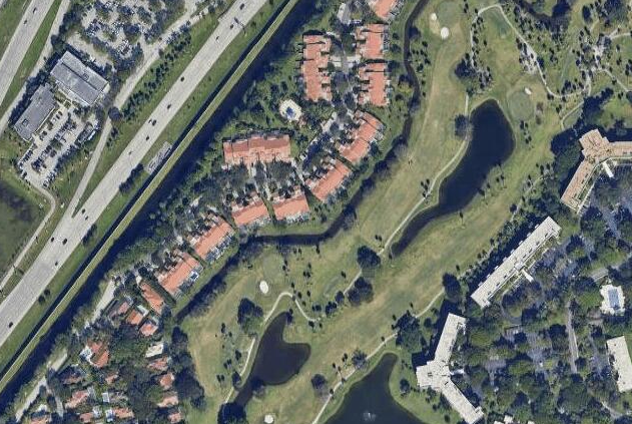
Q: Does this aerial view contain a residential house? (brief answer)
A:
Yes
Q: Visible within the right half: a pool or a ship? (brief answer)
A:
pool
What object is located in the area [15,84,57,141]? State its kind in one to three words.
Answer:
building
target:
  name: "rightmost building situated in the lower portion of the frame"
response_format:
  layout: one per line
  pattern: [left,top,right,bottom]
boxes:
[607,335,632,391]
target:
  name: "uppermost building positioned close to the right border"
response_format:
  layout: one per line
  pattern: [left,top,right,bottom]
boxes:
[560,129,632,211]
